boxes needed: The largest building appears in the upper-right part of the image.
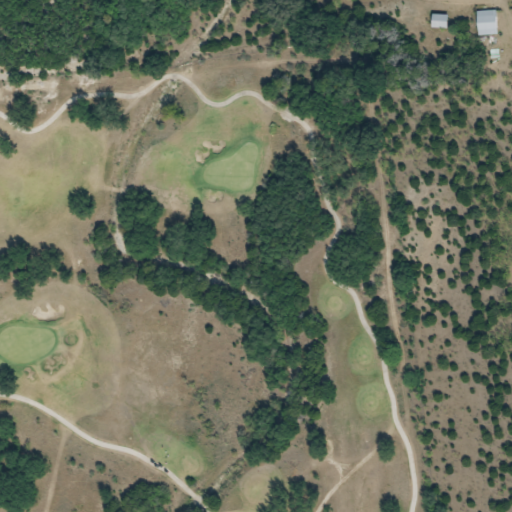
[477,10,498,34]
